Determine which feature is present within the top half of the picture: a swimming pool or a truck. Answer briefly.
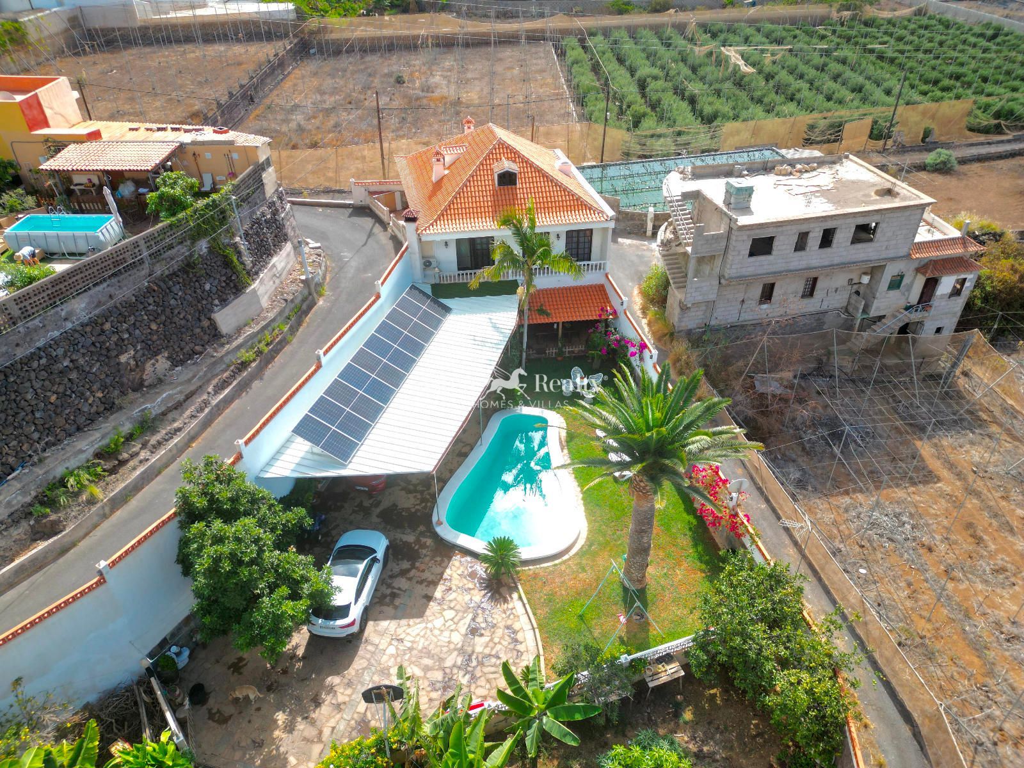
swimming pool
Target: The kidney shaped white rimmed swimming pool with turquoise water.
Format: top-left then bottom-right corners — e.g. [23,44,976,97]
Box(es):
[432,407,586,565]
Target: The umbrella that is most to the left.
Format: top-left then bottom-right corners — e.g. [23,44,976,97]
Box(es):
[103,186,125,232]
